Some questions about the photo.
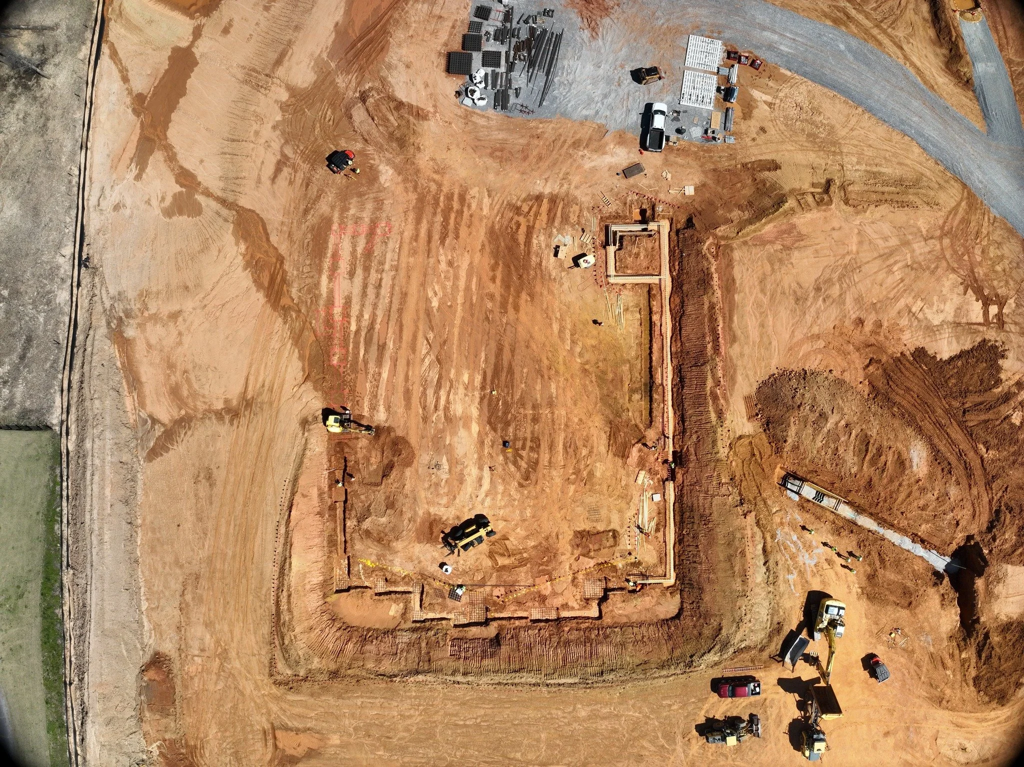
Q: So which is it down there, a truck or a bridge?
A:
truck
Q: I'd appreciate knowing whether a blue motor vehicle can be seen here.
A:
No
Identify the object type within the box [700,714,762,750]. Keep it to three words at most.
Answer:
work vehicle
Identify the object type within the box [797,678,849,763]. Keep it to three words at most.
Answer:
truck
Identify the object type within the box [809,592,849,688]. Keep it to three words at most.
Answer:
work vehicle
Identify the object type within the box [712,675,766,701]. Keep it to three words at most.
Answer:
truck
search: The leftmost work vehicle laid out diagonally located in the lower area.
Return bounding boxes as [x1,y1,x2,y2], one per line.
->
[443,518,496,559]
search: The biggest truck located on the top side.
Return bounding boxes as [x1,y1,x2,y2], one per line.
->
[645,102,669,155]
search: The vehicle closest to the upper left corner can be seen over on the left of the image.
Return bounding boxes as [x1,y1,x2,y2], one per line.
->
[328,150,357,178]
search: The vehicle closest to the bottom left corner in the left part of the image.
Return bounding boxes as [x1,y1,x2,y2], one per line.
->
[326,416,377,435]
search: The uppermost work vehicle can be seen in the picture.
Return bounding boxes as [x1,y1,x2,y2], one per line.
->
[639,63,667,85]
